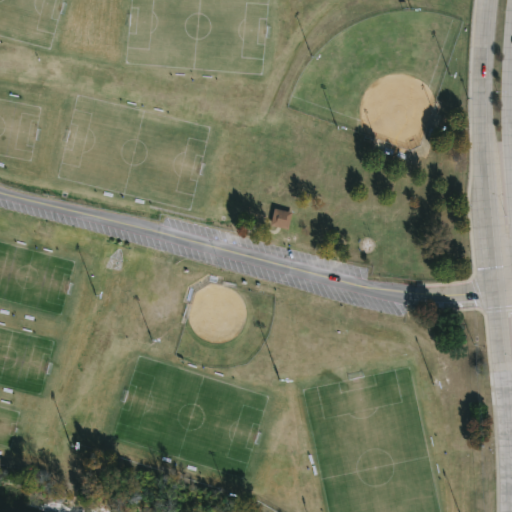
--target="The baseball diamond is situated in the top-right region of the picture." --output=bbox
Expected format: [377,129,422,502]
[312,24,452,150]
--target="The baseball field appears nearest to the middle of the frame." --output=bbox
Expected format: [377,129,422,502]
[184,275,248,344]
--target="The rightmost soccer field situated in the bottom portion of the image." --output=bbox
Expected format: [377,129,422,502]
[302,366,442,512]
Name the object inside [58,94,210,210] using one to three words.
soccer field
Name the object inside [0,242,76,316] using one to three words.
soccer field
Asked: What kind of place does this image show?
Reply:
sports ground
